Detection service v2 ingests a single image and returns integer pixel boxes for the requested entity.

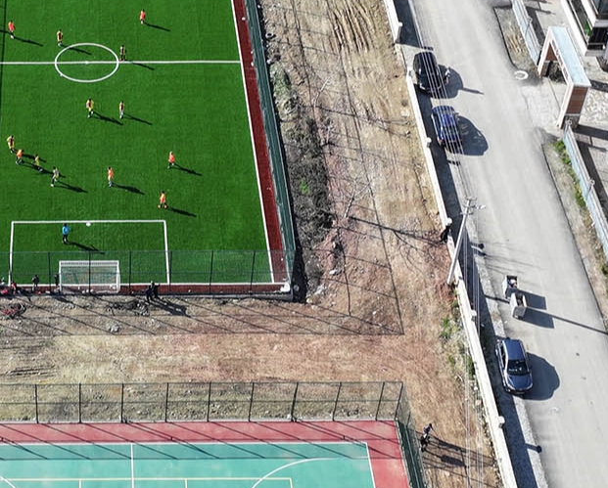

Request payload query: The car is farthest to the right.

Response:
[496,334,539,390]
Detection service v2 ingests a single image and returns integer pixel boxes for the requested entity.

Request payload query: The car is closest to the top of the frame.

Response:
[413,47,447,92]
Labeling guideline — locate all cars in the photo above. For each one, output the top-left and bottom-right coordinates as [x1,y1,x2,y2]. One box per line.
[432,105,469,147]
[496,334,539,390]
[413,47,447,92]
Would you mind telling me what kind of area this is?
sports ground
